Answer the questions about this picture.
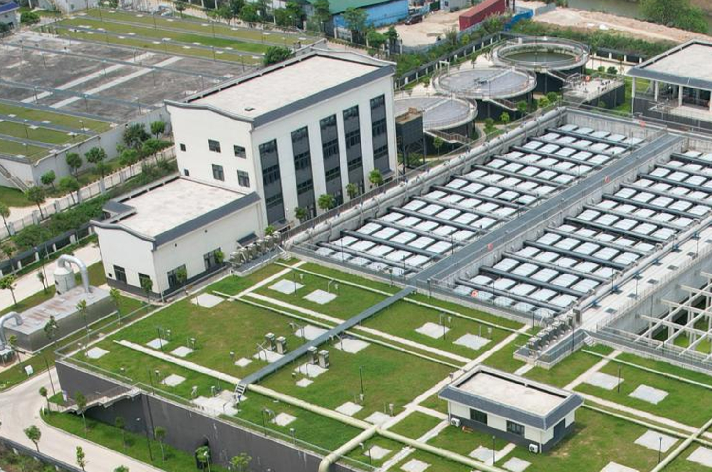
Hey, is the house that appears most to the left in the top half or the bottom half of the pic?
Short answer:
top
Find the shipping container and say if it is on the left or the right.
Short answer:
right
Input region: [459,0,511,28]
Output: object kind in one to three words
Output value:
shipping container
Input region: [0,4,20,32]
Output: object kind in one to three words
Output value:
house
